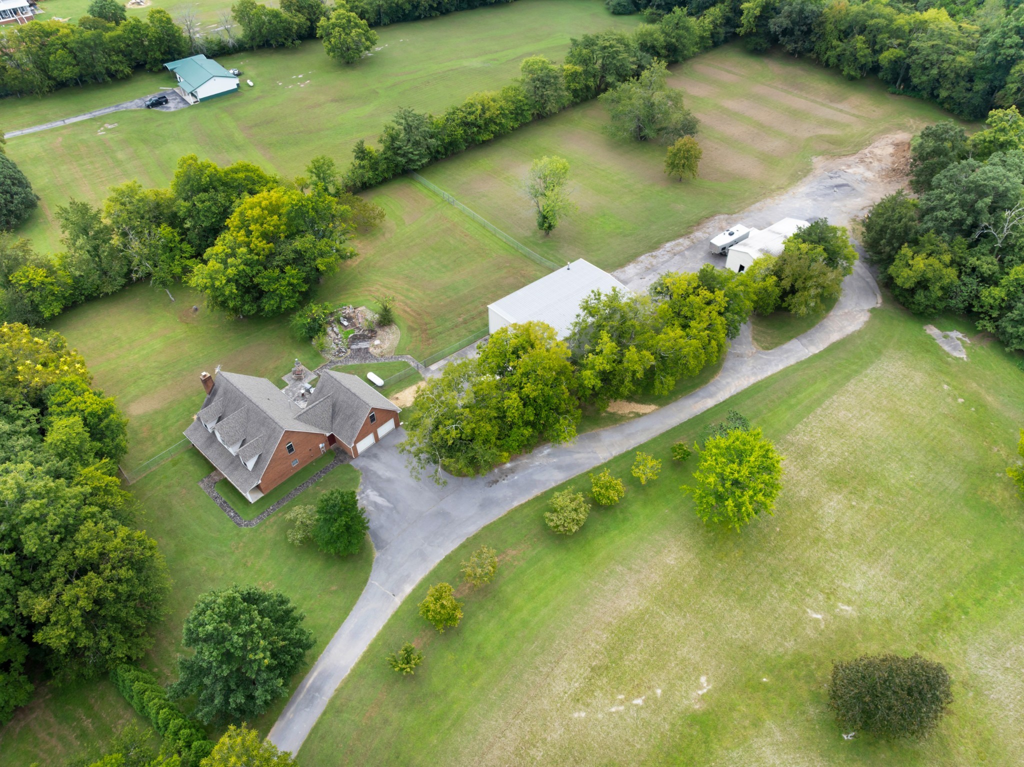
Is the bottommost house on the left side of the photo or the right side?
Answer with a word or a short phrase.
left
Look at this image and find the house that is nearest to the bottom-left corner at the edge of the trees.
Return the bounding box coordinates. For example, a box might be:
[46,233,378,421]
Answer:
[181,365,402,505]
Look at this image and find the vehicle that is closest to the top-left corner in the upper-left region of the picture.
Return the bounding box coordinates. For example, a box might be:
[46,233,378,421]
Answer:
[142,95,171,108]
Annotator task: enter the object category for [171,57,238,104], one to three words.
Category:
building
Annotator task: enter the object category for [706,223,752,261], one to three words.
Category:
vehicle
